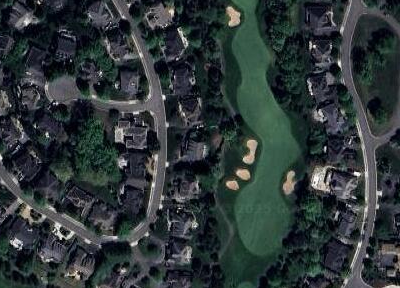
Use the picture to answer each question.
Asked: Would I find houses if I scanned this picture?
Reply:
Yes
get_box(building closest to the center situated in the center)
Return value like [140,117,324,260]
[176,130,206,161]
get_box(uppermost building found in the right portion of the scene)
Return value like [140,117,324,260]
[306,3,334,35]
